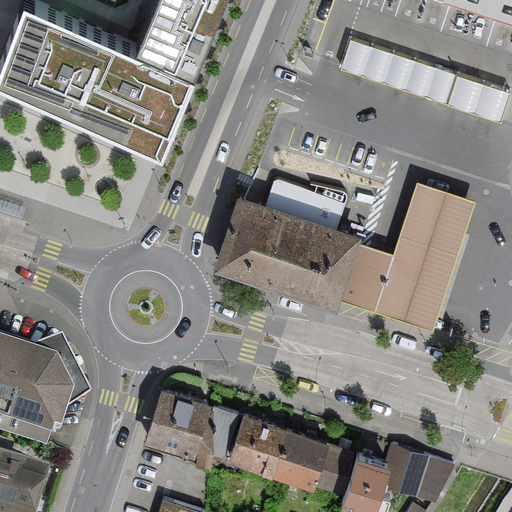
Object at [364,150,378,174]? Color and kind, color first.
white vehicle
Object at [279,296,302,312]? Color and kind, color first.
white car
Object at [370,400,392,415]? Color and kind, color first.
white car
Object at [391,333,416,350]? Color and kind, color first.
white vehicle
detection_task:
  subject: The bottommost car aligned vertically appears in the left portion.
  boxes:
[116,426,128,448]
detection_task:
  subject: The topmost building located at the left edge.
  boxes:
[0,0,194,166]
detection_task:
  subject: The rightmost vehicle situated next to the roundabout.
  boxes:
[213,302,236,318]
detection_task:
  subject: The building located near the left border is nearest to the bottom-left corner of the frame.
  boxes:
[0,443,51,512]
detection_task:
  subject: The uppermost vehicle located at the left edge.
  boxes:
[15,266,38,280]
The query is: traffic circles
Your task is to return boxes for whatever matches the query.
[80,242,212,371]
